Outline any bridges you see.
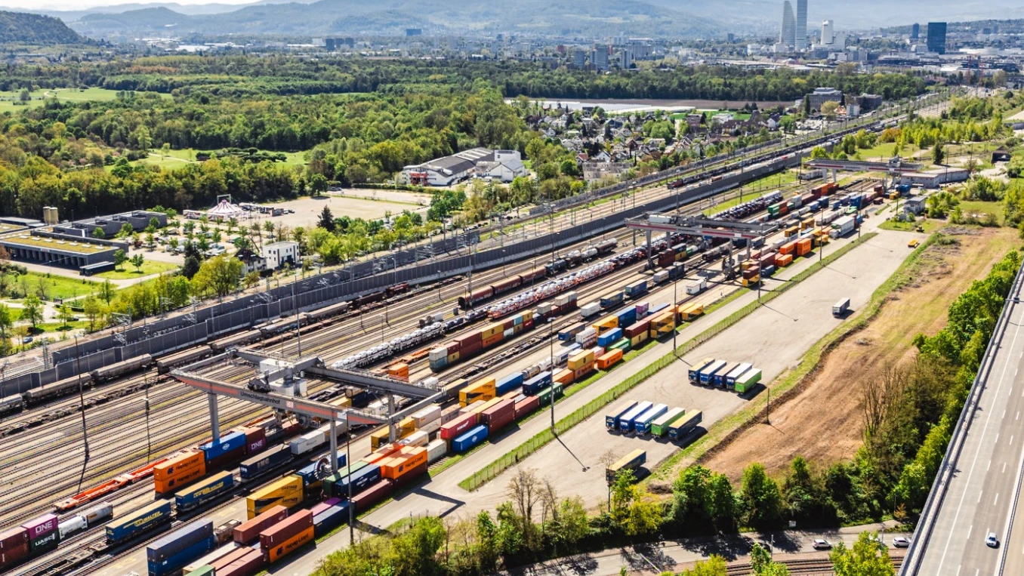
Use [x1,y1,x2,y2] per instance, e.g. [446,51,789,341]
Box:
[899,307,1024,576]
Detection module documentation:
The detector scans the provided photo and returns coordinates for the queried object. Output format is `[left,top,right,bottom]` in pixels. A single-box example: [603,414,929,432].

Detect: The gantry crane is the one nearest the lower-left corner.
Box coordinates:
[163,350,442,480]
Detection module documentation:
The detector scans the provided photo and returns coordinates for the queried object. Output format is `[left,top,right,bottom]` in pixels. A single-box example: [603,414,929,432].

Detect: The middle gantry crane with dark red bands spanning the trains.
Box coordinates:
[612,211,787,279]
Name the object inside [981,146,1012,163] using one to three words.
barn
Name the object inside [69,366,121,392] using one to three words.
rail car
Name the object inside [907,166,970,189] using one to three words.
building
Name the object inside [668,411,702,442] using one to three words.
trailer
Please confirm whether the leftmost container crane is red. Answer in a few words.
No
